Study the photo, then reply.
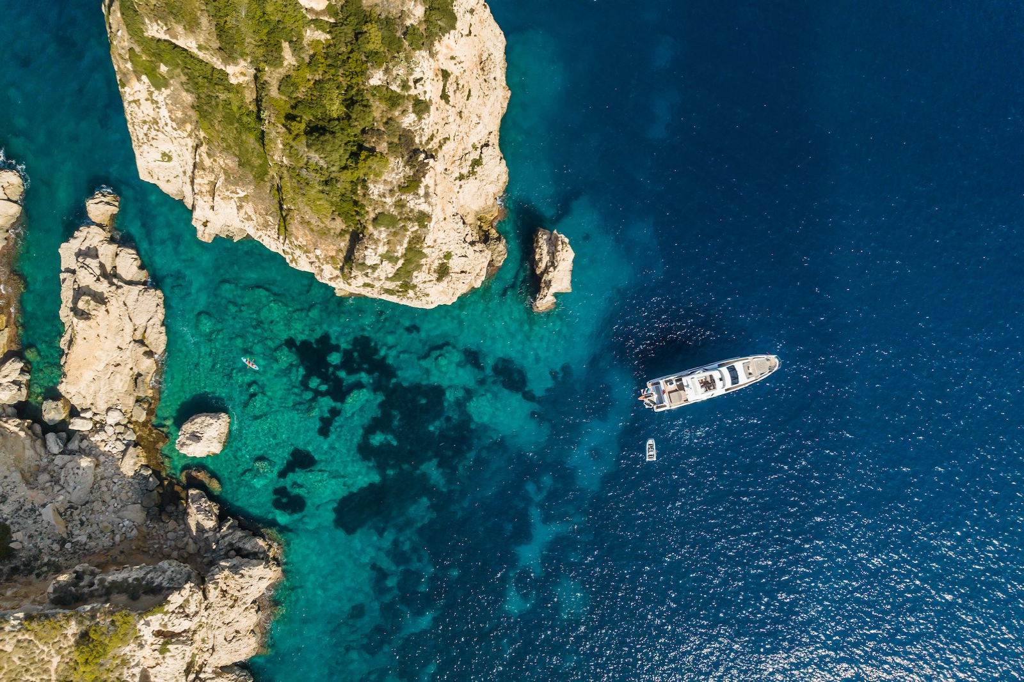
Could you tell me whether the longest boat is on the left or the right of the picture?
right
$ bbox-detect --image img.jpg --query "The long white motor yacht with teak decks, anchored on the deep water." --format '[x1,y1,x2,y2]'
[639,355,782,409]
